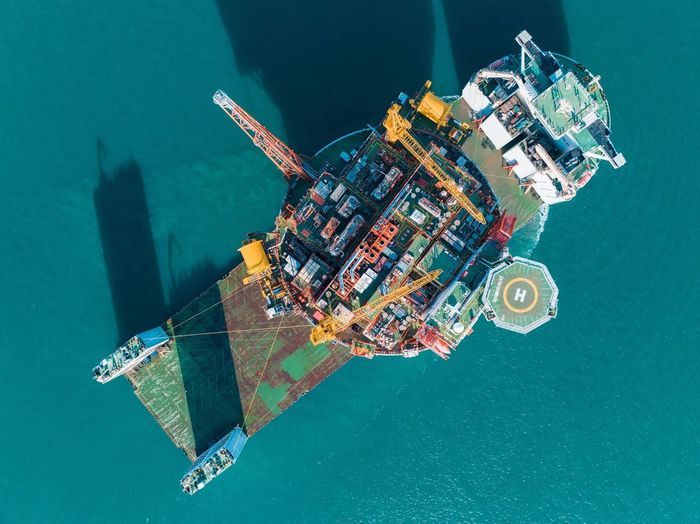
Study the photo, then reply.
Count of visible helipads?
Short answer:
1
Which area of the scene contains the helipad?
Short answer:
right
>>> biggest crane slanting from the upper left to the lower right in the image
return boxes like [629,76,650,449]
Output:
[381,112,486,223]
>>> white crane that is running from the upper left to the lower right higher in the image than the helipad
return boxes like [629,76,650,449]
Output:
[532,144,575,197]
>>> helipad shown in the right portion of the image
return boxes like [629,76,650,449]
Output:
[481,255,560,333]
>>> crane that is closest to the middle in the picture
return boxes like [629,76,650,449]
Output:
[305,270,443,344]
